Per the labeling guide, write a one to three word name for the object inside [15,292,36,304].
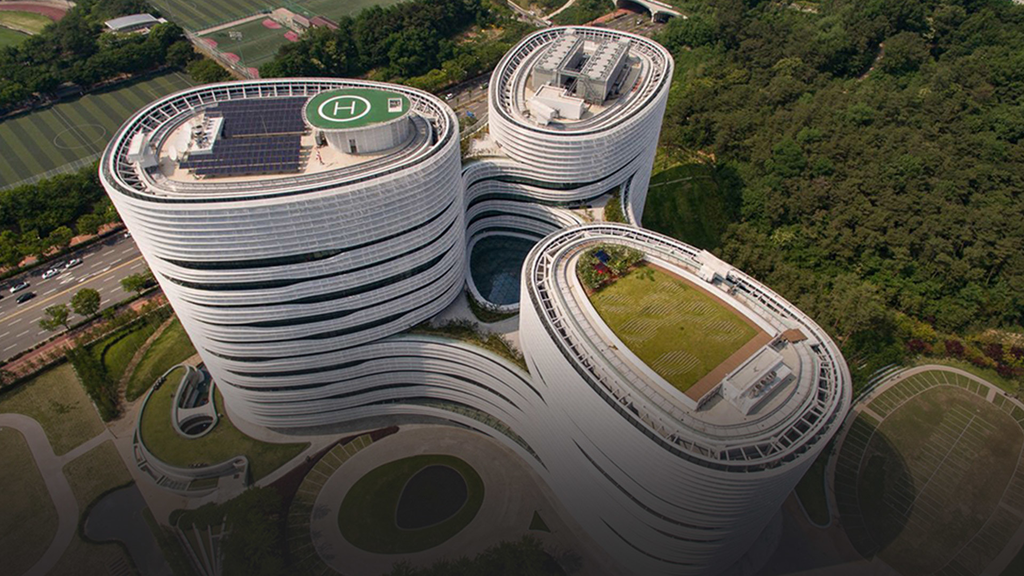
vehicle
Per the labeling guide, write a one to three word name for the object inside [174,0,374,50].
sports field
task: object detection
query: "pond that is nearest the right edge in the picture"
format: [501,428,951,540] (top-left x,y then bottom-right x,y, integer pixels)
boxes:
[397,465,466,527]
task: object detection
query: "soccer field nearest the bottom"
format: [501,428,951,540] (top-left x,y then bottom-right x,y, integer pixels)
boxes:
[0,63,205,188]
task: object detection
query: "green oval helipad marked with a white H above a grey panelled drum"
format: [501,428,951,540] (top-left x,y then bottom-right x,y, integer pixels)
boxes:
[297,84,419,161]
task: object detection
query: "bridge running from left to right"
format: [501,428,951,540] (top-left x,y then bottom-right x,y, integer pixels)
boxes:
[643,0,708,26]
